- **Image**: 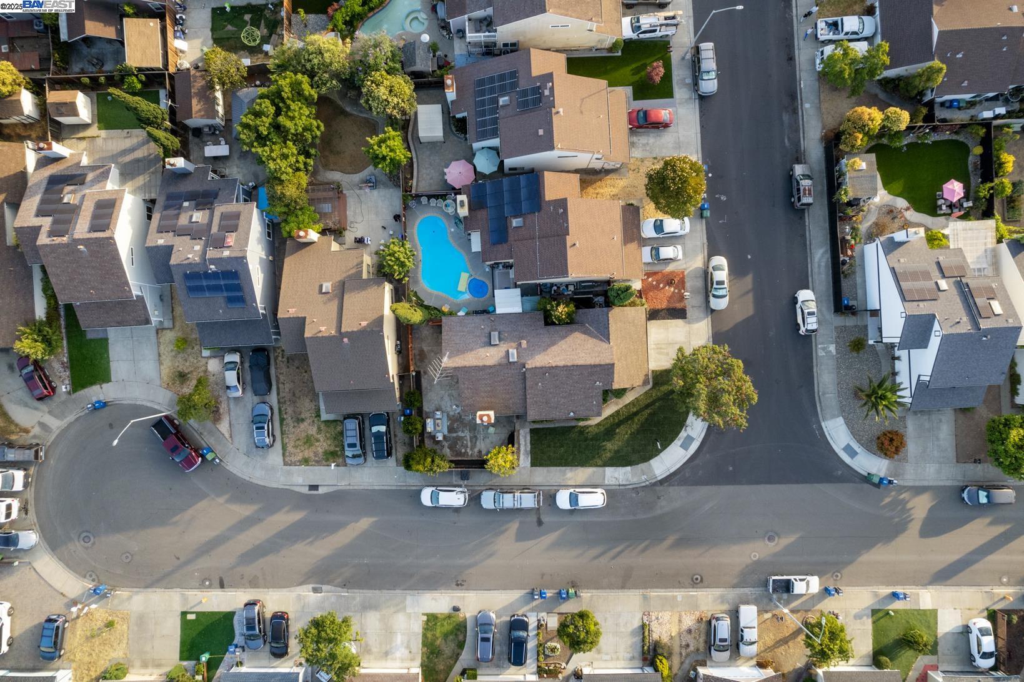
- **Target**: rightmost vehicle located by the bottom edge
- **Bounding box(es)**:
[967,616,998,670]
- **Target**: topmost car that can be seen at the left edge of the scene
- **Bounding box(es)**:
[17,356,57,403]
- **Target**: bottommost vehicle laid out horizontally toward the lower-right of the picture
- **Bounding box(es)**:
[766,572,820,597]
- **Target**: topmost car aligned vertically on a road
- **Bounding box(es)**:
[694,40,720,97]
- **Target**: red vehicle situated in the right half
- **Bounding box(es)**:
[629,106,676,130]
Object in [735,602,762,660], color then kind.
white truck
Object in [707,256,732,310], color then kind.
white car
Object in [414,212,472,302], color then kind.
blue swimming pool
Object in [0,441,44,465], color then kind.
gray truck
